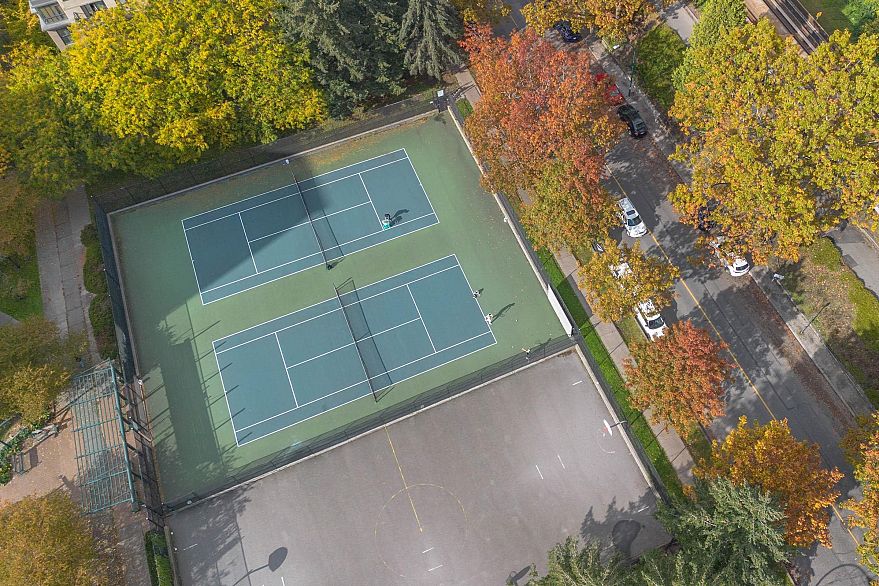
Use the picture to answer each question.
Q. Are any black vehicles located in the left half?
No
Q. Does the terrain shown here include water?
No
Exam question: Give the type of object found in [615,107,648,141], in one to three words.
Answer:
car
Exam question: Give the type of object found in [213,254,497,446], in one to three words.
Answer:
tennis court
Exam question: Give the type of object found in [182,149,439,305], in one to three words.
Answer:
tennis court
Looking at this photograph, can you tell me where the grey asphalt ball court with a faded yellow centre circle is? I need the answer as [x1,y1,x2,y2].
[170,351,670,586]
